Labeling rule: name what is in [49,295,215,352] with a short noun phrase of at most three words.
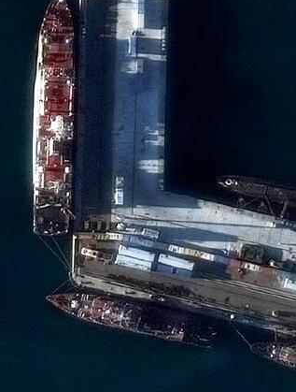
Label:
ship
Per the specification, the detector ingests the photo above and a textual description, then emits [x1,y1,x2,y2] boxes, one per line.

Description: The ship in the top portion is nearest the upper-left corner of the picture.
[35,0,77,238]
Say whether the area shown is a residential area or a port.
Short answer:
port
